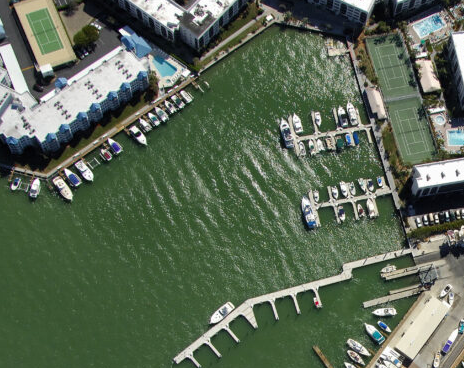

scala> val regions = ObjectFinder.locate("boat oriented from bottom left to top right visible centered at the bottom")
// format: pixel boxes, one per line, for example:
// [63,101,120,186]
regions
[209,301,236,323]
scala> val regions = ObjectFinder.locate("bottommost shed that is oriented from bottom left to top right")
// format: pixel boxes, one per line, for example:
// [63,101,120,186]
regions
[394,296,451,361]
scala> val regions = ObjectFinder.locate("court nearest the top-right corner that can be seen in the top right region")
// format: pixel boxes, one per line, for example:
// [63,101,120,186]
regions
[366,27,420,100]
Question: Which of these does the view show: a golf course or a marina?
marina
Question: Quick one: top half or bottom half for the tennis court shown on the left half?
top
